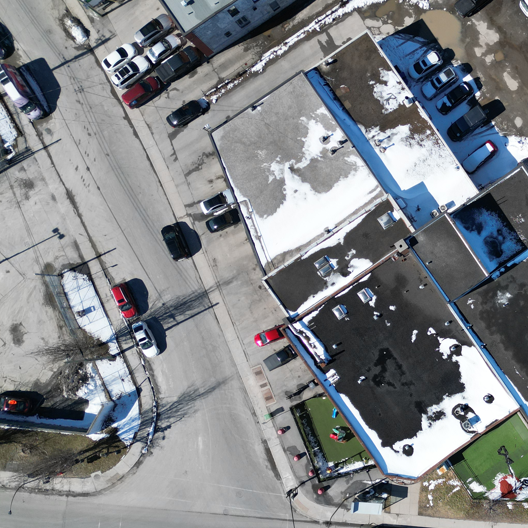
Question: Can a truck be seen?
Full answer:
Yes, you can see a truck in this photo.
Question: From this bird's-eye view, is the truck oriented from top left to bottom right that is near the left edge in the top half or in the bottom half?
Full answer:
You can find the truck oriented from top left to bottom right that is near the left edge in the top half.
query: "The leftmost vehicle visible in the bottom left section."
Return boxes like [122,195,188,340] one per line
[0,394,31,412]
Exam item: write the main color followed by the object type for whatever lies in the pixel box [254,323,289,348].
red car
